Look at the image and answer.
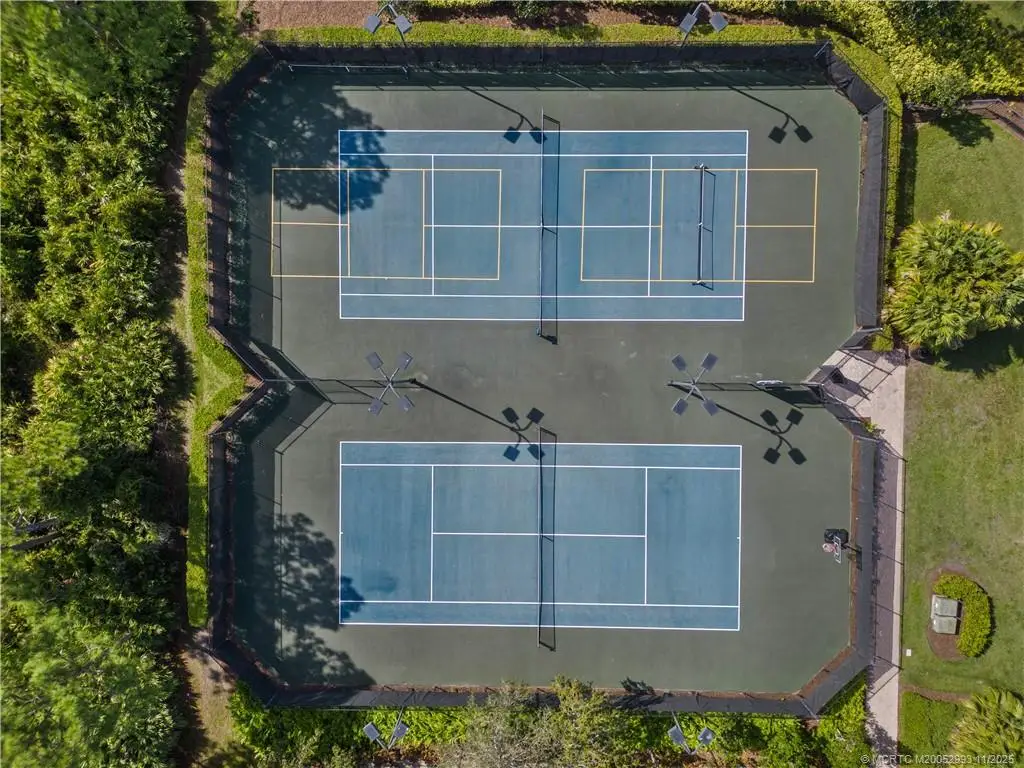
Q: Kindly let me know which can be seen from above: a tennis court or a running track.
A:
tennis court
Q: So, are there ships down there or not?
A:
No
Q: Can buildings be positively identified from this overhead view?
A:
No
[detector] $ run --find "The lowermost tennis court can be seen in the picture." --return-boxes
[339,441,743,631]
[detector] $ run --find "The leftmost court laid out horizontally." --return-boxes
[272,169,500,279]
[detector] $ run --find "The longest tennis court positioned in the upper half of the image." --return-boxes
[338,130,749,321]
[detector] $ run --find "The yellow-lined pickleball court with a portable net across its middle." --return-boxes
[582,170,817,281]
